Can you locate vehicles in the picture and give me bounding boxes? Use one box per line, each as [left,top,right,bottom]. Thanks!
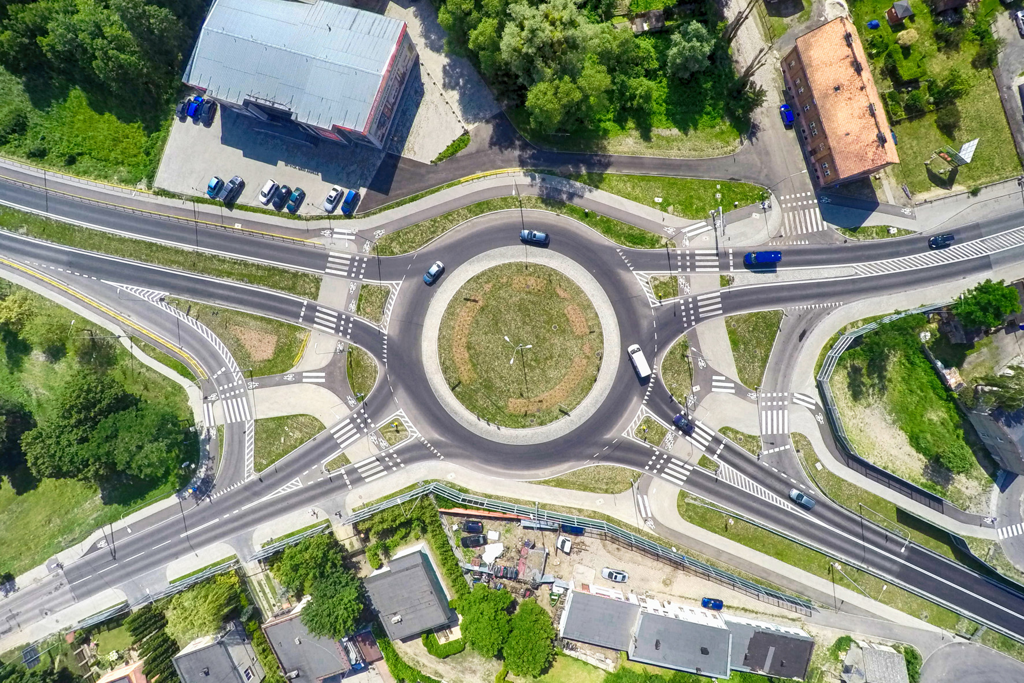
[629,345,651,378]
[423,259,446,286]
[220,174,244,205]
[560,521,586,535]
[186,95,204,122]
[287,189,306,212]
[341,188,360,214]
[273,184,293,212]
[670,411,698,437]
[555,536,574,551]
[520,230,550,245]
[786,487,818,510]
[600,566,629,582]
[745,252,782,266]
[199,97,218,127]
[461,533,489,548]
[699,596,723,611]
[259,179,278,205]
[460,520,484,533]
[324,184,344,213]
[174,95,190,122]
[923,233,958,249]
[207,175,225,198]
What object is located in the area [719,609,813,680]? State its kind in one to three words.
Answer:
building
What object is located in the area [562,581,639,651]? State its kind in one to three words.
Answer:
building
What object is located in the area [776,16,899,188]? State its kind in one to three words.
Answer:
house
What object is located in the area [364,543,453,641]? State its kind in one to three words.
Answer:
house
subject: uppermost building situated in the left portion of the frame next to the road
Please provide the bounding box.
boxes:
[180,0,421,165]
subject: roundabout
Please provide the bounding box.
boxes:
[391,212,655,477]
